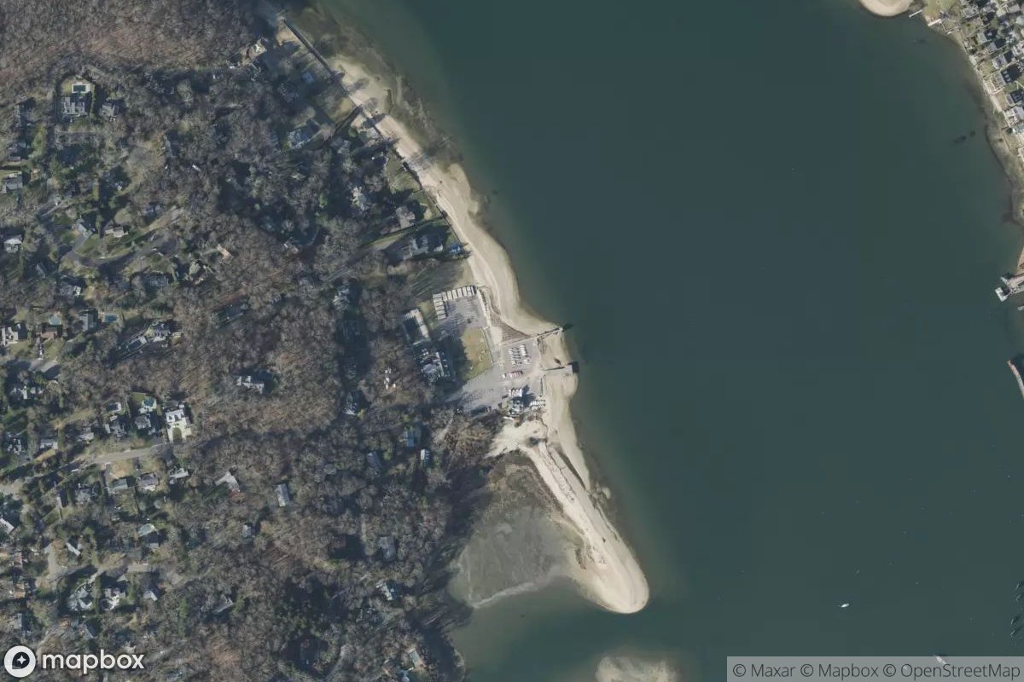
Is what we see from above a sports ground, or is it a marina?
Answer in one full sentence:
The picture captures a marina.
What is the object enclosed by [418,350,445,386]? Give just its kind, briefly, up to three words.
building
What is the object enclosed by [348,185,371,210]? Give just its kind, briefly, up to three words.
house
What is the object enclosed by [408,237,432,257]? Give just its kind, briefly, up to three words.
house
